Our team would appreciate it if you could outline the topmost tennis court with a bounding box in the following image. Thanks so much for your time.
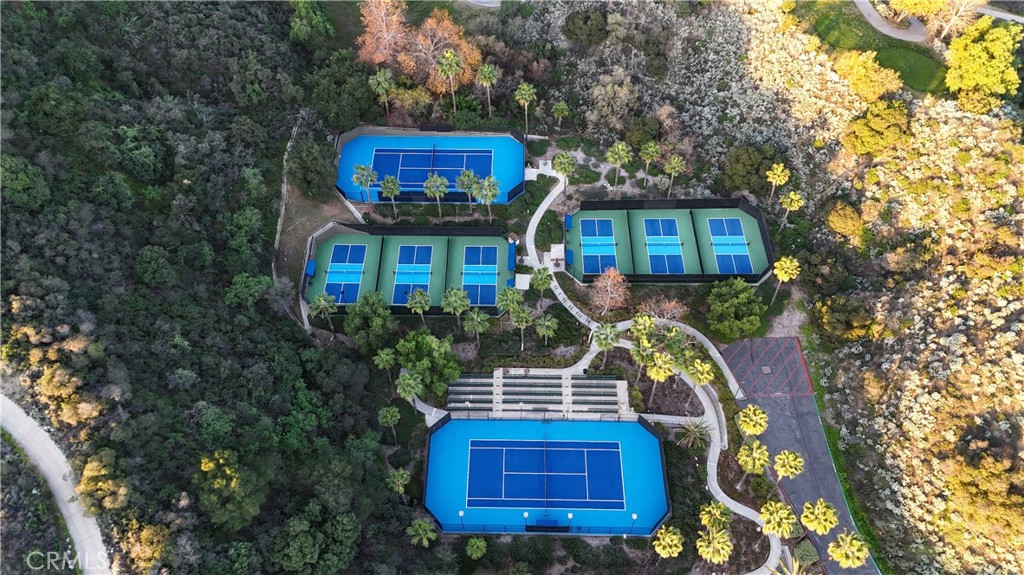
[337,135,525,202]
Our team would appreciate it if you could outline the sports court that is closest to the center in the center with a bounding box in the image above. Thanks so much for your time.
[445,236,515,315]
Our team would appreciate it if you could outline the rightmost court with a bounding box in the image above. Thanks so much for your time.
[690,209,769,274]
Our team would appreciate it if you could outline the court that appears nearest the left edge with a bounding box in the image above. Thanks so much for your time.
[306,235,383,305]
